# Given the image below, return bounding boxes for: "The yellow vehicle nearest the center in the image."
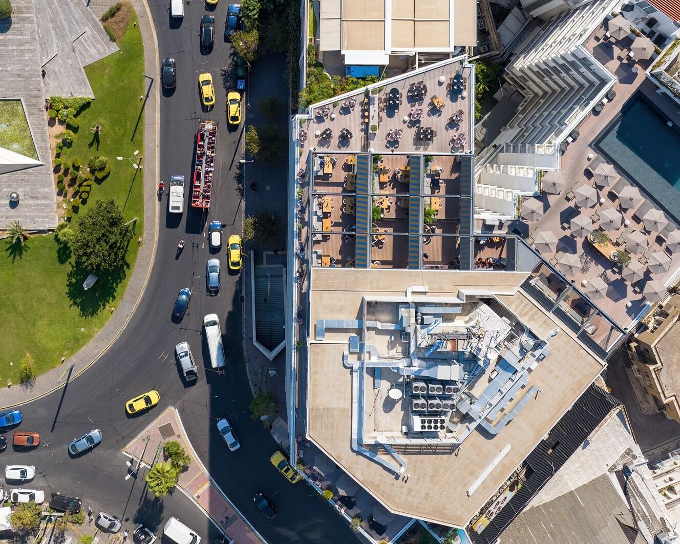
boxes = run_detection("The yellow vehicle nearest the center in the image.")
[226,235,248,269]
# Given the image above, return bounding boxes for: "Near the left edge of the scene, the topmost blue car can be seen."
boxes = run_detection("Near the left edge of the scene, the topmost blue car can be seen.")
[0,410,24,429]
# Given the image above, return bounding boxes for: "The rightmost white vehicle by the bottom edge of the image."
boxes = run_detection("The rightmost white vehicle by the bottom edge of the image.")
[160,507,205,544]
